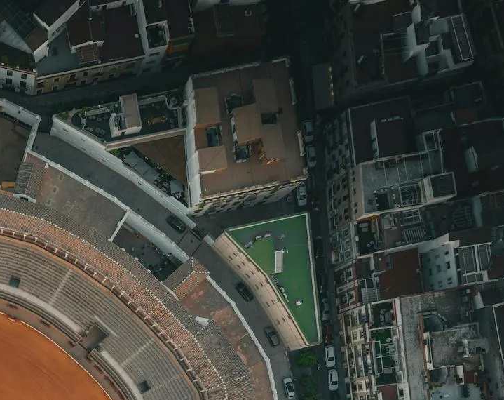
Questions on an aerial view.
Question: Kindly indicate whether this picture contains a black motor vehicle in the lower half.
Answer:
Yes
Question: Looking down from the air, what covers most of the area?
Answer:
buildings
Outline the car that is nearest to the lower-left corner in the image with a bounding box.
[165,215,186,234]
